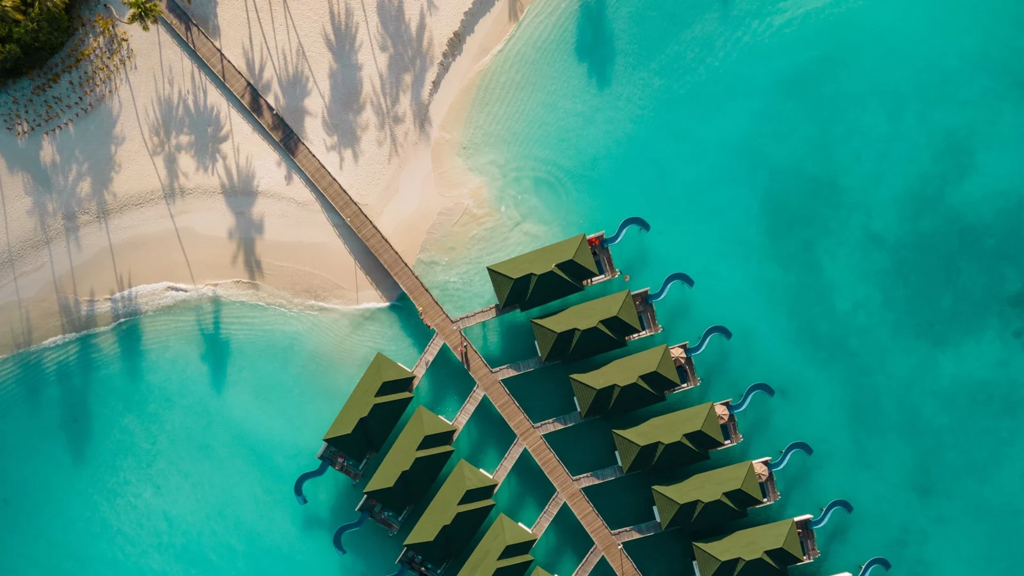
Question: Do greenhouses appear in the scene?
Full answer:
No, I can see no greenhouse in this picture.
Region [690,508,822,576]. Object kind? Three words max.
house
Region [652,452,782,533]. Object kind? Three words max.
house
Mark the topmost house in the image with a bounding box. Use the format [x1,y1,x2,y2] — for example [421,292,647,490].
[487,230,621,312]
